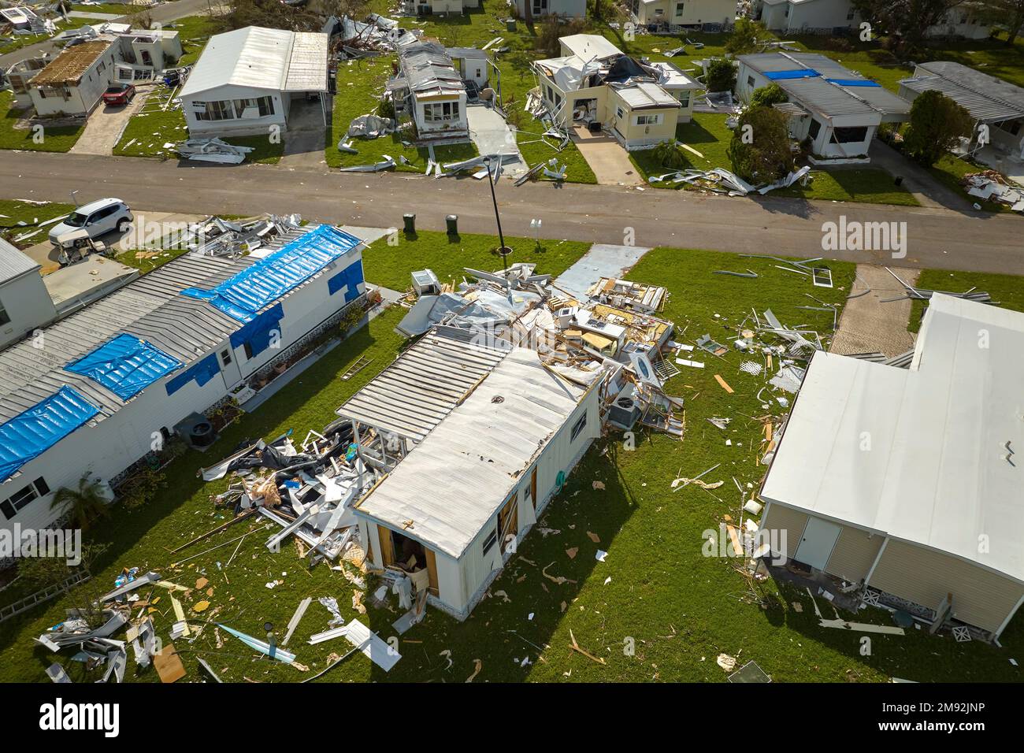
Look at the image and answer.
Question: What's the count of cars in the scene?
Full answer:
The count of cars comes to 2.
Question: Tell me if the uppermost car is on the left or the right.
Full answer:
It is on the left.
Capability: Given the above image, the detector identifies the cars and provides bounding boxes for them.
[103,81,137,103]
[45,199,132,255]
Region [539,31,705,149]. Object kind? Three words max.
house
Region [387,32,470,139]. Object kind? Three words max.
house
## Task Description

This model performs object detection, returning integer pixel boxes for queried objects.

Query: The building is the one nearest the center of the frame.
[332,316,604,620]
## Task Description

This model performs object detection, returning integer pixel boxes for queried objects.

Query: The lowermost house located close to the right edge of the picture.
[752,296,1024,664]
